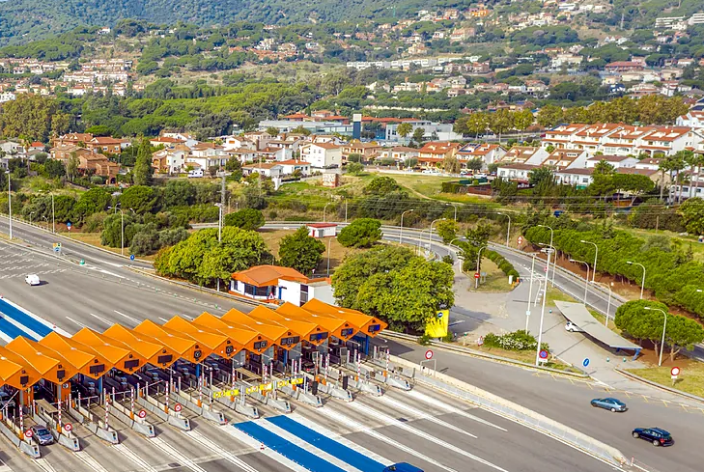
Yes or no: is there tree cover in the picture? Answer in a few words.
Yes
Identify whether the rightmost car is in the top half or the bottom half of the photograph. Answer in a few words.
bottom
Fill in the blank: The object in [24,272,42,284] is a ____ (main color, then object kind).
white vehicle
